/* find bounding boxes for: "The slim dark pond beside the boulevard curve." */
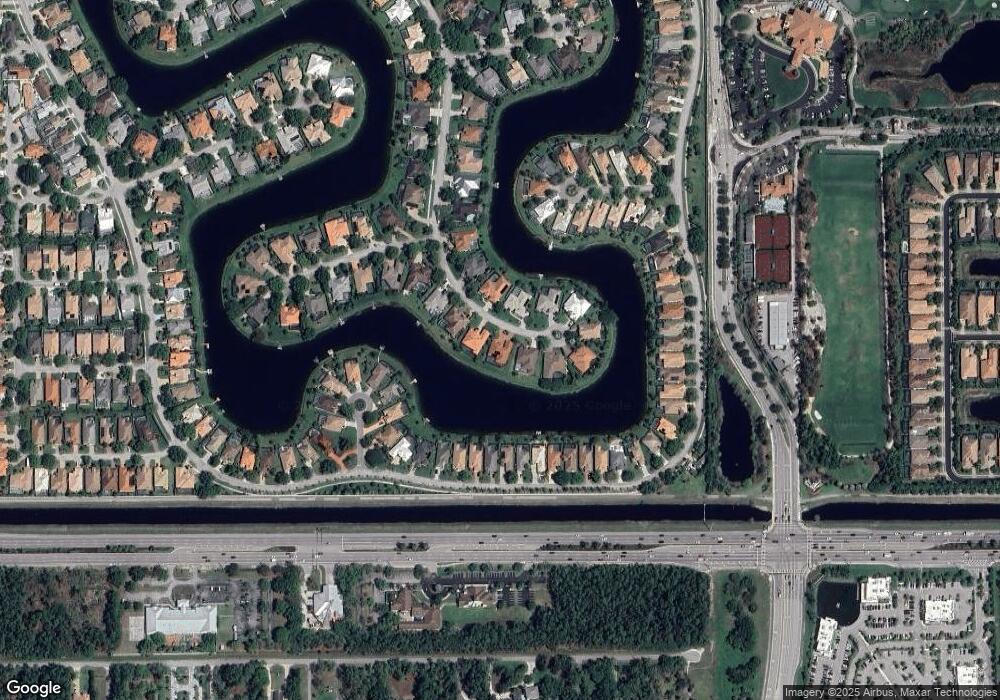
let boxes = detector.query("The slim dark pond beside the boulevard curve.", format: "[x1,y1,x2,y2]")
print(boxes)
[719,376,754,481]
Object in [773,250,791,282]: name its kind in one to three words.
tennis court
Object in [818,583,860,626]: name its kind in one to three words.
pond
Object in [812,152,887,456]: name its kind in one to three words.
sports field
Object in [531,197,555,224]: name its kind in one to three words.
house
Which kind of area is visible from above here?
residential area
